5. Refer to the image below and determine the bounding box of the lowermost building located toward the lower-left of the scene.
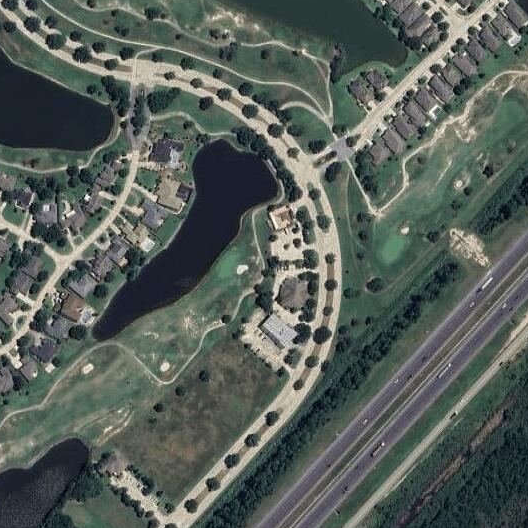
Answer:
[102,451,129,479]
